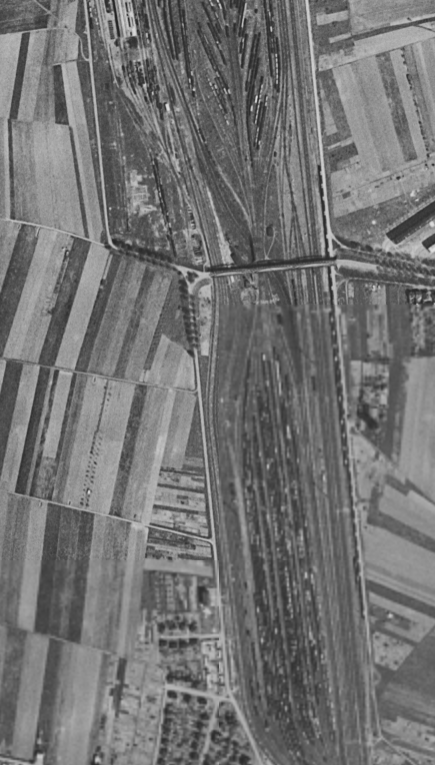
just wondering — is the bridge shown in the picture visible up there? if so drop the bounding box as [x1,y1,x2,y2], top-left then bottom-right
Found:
[207,258,339,277]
